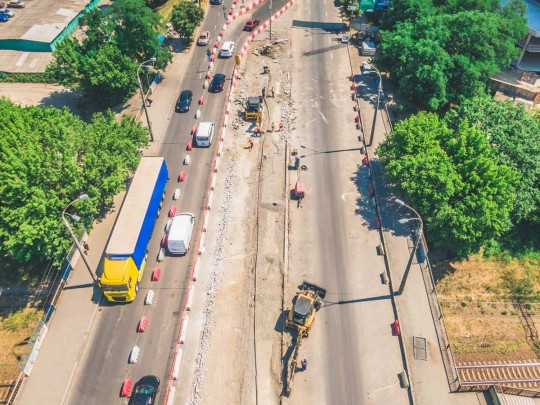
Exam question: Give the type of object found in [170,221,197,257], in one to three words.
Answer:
vehicle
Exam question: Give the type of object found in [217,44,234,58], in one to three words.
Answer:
car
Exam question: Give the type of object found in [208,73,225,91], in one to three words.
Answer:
car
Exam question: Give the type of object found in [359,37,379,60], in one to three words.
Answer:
vehicle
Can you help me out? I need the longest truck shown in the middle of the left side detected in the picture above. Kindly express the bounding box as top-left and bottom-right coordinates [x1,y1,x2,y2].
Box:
[100,159,169,305]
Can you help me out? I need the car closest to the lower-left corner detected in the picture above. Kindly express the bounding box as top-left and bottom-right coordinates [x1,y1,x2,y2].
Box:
[127,378,159,405]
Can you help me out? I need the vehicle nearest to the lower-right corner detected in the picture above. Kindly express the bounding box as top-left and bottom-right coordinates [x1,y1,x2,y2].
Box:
[283,277,330,393]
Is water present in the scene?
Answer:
No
